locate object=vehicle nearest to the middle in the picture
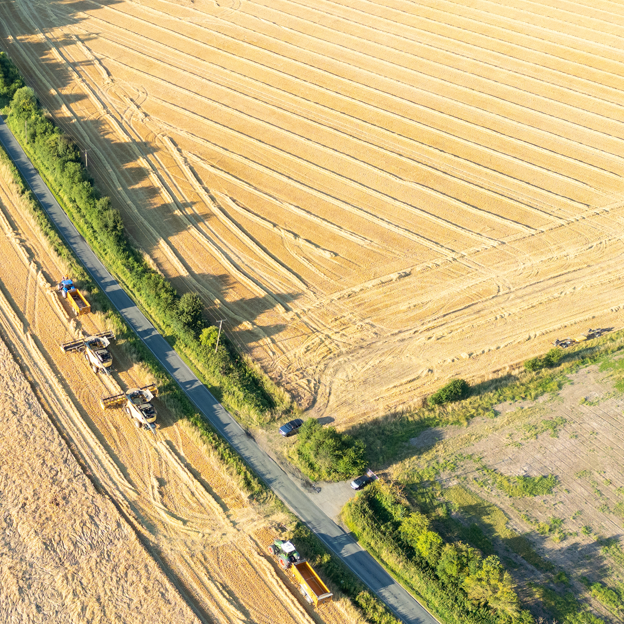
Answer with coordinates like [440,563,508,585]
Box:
[279,418,304,438]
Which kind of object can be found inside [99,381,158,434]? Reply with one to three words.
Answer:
work vehicle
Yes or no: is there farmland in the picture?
Yes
